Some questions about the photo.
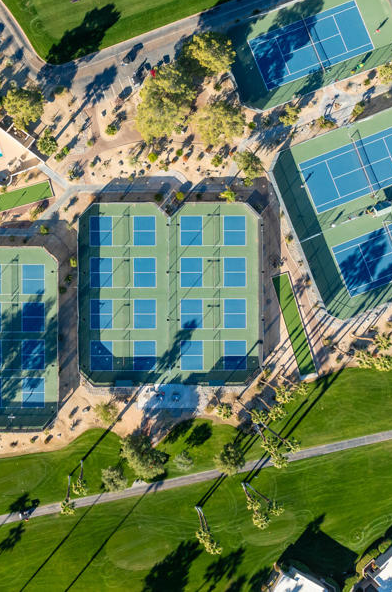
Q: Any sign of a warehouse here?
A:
No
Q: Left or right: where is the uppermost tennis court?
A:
right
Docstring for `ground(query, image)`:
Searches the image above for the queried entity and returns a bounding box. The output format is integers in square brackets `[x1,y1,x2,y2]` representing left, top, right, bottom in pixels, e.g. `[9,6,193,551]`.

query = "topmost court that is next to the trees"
[230,0,392,109]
